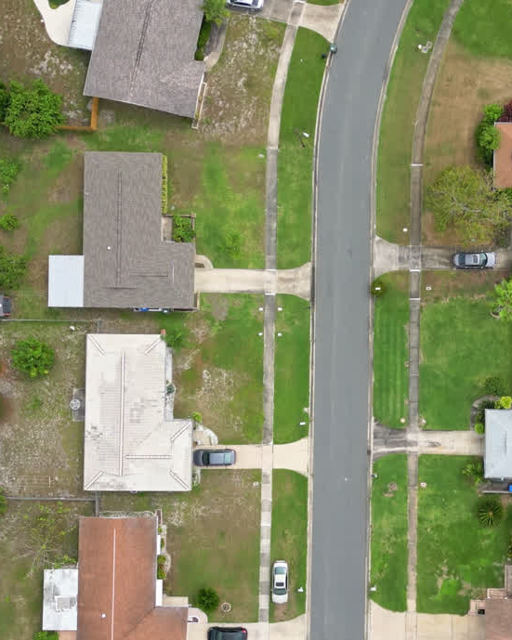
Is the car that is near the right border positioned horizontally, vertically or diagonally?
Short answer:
horizontally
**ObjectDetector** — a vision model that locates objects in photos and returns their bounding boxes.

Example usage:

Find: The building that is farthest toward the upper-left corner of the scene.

[68,0,208,118]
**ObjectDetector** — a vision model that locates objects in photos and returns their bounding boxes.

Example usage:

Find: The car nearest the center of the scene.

[194,447,237,467]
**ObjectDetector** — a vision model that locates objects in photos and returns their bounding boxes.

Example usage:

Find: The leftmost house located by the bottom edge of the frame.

[43,515,190,640]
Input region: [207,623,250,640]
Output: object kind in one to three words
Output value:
car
